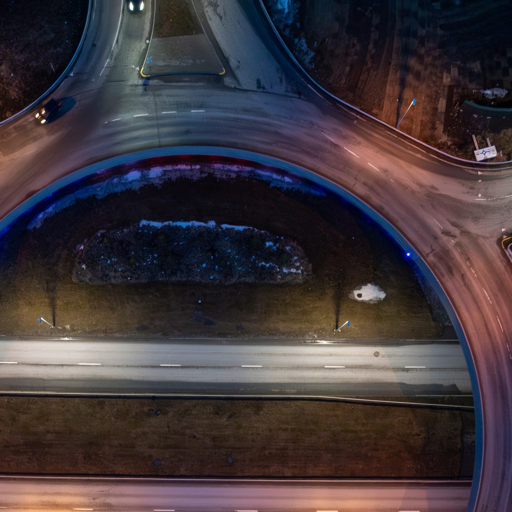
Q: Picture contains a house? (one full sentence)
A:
No, there's no house here.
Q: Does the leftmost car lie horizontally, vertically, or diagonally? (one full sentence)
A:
In this picture, the leftmost car lies diagonally.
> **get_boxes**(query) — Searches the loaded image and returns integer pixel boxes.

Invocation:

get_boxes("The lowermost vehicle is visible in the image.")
[34,94,64,125]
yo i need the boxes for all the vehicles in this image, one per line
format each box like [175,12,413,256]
[129,0,143,10]
[34,94,64,125]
